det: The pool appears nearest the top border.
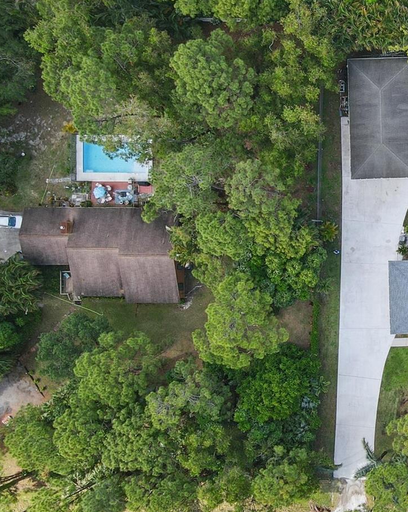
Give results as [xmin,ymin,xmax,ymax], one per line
[81,140,150,174]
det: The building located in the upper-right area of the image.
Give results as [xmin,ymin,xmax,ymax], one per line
[347,57,408,180]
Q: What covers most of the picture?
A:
trees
